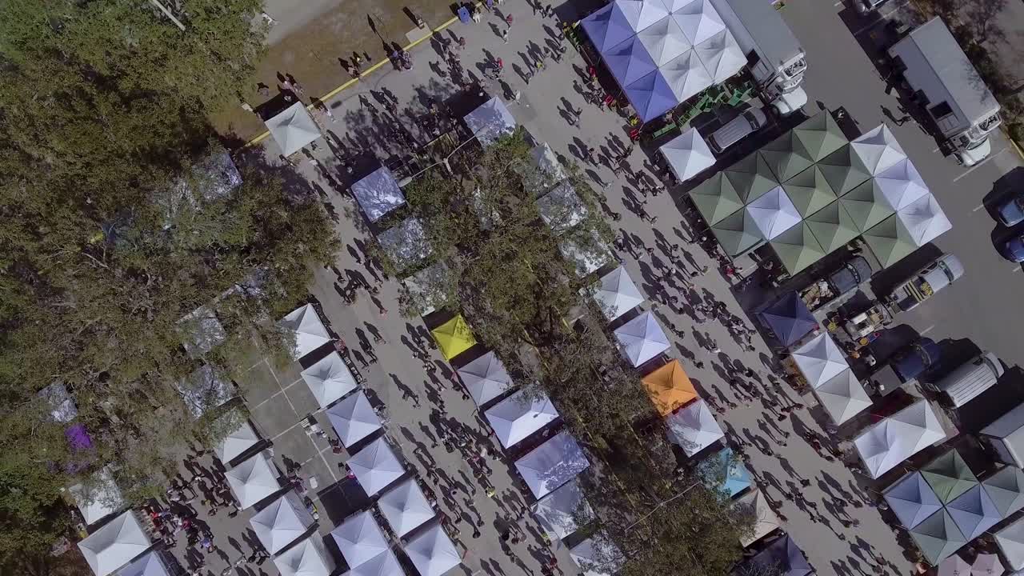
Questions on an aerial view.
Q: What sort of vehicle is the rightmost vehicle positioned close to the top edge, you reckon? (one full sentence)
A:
I'd identify the rightmost vehicle positioned close to the top edge as a truck.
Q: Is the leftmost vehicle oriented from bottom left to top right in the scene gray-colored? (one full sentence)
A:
Yes, the leftmost vehicle oriented from bottom left to top right is indeed gray.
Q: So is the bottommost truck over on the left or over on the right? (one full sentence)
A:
The bottommost truck is on the right side of the image.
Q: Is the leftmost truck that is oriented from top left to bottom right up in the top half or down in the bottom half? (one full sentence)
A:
Seen from above, the leftmost truck that is oriented from top left to bottom right lies in the top half of the view.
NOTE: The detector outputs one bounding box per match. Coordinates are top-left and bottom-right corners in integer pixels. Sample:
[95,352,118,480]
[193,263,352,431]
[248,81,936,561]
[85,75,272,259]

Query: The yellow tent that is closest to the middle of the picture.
[431,313,477,359]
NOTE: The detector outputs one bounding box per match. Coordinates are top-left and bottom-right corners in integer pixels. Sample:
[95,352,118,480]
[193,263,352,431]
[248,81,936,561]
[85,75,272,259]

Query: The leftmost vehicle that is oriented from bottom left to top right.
[704,108,765,156]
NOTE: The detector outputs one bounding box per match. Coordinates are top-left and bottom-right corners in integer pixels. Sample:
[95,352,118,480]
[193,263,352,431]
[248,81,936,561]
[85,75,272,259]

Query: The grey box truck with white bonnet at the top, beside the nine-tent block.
[714,0,813,118]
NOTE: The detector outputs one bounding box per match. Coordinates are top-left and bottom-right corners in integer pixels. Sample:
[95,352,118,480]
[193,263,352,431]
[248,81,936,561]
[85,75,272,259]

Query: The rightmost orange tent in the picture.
[640,358,698,416]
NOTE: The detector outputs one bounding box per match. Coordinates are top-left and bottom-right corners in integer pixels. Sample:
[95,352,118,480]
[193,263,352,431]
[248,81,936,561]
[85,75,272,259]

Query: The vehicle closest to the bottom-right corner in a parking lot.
[975,389,1024,460]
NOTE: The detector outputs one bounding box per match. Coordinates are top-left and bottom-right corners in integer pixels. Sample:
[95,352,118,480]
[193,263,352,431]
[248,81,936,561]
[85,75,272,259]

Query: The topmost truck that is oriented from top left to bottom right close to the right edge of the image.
[892,15,1002,167]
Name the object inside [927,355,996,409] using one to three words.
van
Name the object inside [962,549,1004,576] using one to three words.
umbrella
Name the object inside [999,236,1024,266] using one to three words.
car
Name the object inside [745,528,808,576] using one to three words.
tent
